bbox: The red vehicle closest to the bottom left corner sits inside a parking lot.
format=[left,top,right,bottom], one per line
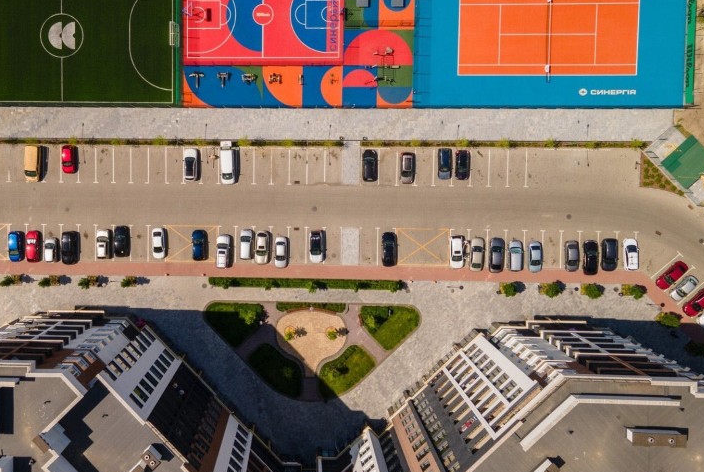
[24,231,42,261]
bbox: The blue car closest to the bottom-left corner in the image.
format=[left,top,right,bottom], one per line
[7,232,24,261]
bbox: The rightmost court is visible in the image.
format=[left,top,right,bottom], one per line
[415,0,687,107]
